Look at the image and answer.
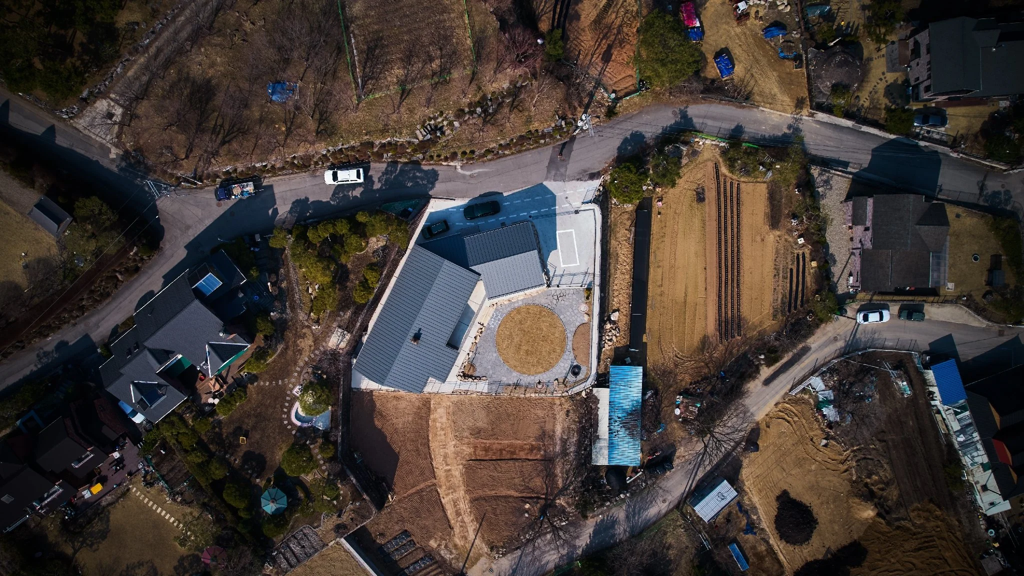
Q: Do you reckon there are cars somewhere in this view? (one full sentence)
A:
Yes, a car appears in the view.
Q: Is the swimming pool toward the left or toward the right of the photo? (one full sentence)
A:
The swimming pool is on the left side of the image.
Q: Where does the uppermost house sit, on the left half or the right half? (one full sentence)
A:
The uppermost house is on the right side of the image.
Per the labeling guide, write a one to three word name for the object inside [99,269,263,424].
house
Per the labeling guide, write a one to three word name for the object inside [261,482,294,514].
gazebo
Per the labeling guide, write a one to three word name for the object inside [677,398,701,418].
shed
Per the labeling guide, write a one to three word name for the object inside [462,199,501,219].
car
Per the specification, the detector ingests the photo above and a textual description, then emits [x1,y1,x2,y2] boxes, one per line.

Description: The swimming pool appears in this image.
[292,385,331,430]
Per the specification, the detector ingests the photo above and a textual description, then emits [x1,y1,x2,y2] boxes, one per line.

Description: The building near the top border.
[909,17,1024,102]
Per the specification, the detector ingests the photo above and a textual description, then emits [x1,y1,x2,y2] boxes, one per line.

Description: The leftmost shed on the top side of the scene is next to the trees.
[28,196,77,237]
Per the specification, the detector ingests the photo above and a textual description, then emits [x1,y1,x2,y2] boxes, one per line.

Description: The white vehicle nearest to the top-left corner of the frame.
[323,166,363,185]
